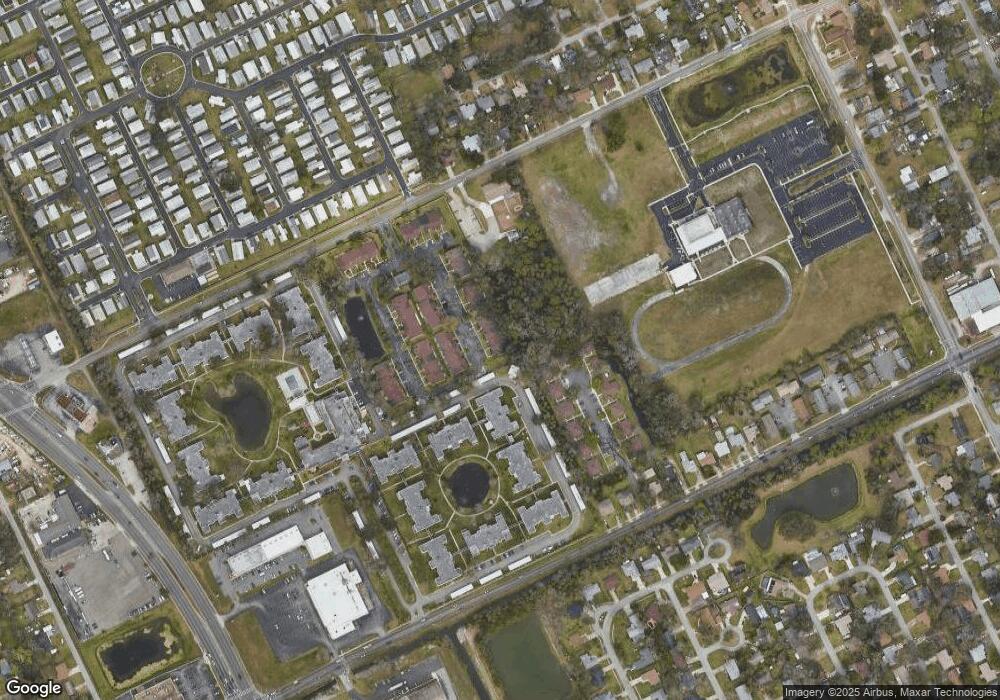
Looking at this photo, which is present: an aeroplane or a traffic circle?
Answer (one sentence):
This aerial view contains a traffic circle.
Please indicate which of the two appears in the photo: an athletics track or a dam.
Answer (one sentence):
Visible in the photo is an athletics track.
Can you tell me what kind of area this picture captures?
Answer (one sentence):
What you see here is a residential area.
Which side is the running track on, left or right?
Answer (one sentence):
The running track sits on the right side.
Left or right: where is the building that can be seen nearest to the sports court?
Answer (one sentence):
The building that can be seen nearest to the sports court sits on the right side.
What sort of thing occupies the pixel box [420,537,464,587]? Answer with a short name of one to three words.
building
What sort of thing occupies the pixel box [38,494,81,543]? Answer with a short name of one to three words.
shed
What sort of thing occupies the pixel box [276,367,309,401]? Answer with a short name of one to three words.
swimming pool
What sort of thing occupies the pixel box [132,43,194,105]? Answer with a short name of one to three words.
roundabout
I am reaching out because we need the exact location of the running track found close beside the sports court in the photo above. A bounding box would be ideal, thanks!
[633,255,791,381]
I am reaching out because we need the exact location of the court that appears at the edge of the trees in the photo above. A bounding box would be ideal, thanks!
[584,253,661,305]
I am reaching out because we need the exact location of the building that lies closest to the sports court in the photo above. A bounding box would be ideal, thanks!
[669,262,697,287]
